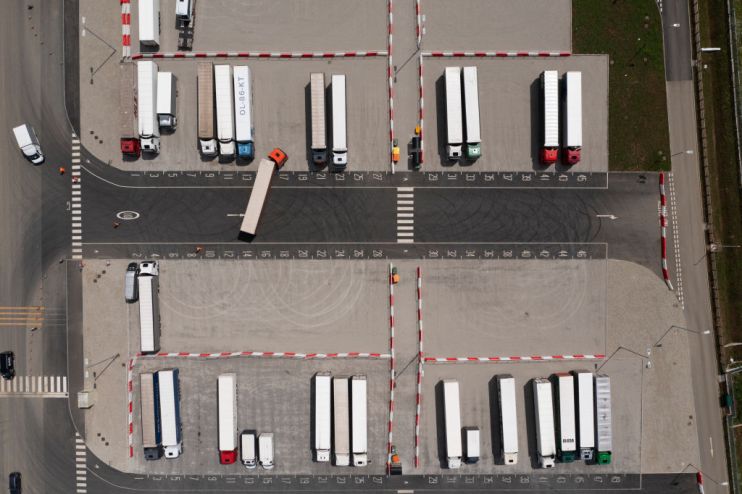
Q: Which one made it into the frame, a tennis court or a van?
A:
van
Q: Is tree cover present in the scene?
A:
No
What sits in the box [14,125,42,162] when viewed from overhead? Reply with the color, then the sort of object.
white van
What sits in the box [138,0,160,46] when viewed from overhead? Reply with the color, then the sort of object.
white truck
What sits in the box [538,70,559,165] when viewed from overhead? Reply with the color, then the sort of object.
white vehicle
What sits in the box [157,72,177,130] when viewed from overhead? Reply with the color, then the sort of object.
white vehicle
